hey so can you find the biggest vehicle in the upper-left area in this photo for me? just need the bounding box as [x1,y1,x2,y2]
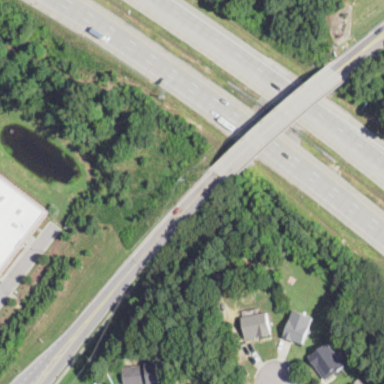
[86,25,111,44]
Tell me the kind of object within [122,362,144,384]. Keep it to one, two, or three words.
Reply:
house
